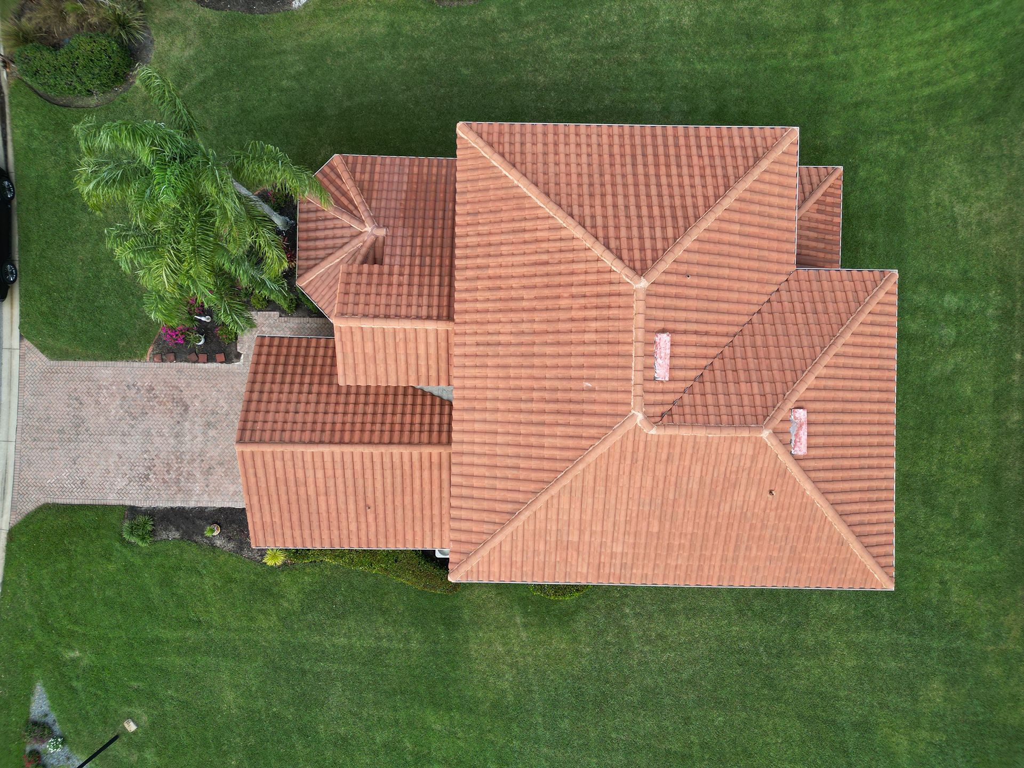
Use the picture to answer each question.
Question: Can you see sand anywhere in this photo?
No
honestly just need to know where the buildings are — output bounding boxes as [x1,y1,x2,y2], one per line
[232,120,901,589]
